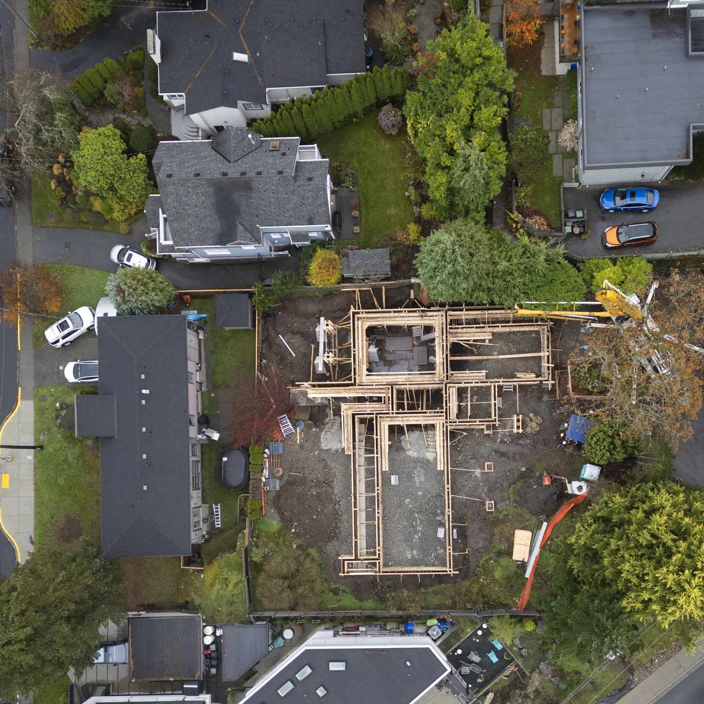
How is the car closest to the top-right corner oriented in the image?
from left to right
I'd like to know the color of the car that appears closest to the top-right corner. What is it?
blue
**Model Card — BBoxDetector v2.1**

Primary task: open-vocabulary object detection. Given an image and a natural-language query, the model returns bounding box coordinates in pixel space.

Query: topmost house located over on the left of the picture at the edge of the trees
[147,0,365,143]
